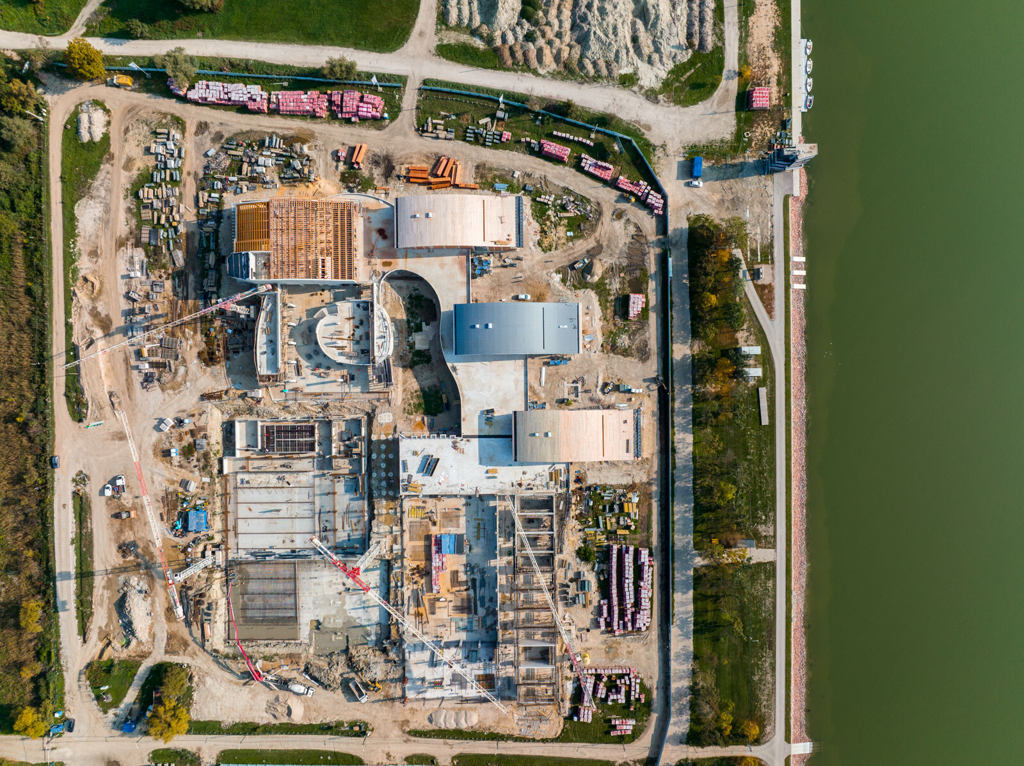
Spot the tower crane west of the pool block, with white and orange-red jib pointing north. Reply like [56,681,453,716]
[116,410,225,623]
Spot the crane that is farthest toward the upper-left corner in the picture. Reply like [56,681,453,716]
[58,282,276,370]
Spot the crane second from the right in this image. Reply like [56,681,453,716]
[308,534,510,717]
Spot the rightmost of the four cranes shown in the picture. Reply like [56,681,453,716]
[507,498,597,714]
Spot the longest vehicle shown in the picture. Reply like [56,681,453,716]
[227,580,288,696]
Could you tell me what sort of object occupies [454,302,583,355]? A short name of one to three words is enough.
building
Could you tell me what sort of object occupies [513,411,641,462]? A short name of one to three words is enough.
building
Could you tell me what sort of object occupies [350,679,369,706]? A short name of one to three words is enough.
vehicle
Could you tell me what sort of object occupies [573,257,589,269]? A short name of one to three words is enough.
vehicle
